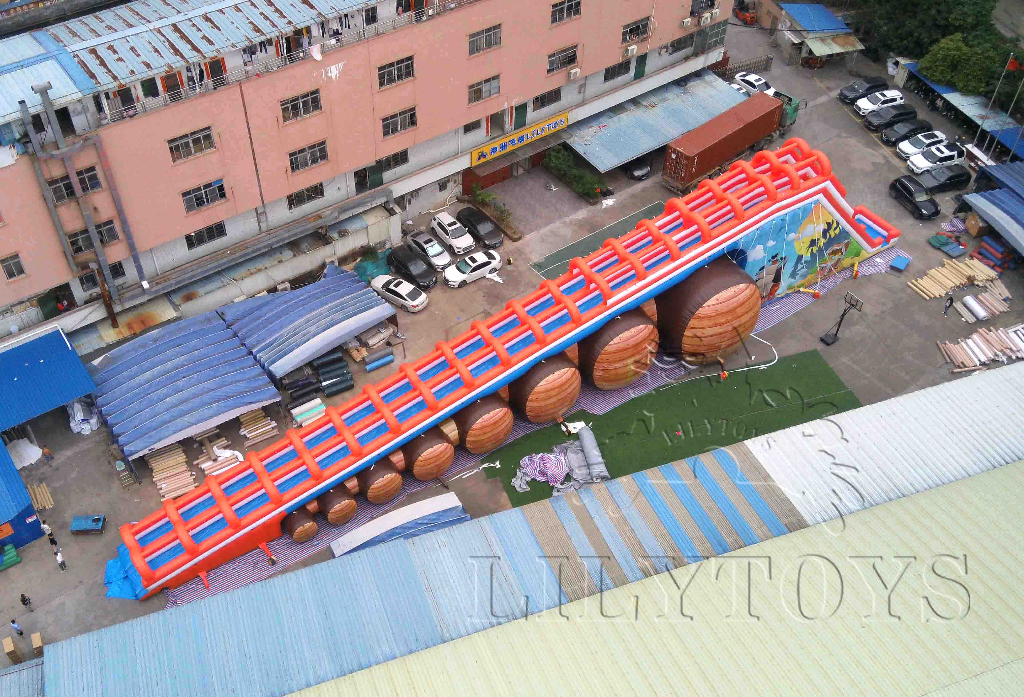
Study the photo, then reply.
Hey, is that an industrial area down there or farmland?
industrial area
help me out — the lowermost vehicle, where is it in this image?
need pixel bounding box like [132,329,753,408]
[368,277,433,319]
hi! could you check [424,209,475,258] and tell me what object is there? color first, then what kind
white car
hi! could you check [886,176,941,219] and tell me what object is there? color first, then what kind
black car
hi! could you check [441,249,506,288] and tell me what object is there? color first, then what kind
white car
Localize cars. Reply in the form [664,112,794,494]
[368,277,433,319]
[736,69,781,96]
[441,249,506,288]
[453,205,504,251]
[424,209,475,258]
[840,72,890,105]
[618,155,650,181]
[856,85,909,117]
[897,128,951,163]
[914,161,972,194]
[382,241,437,292]
[886,176,941,219]
[881,117,935,147]
[866,99,919,132]
[400,227,451,273]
